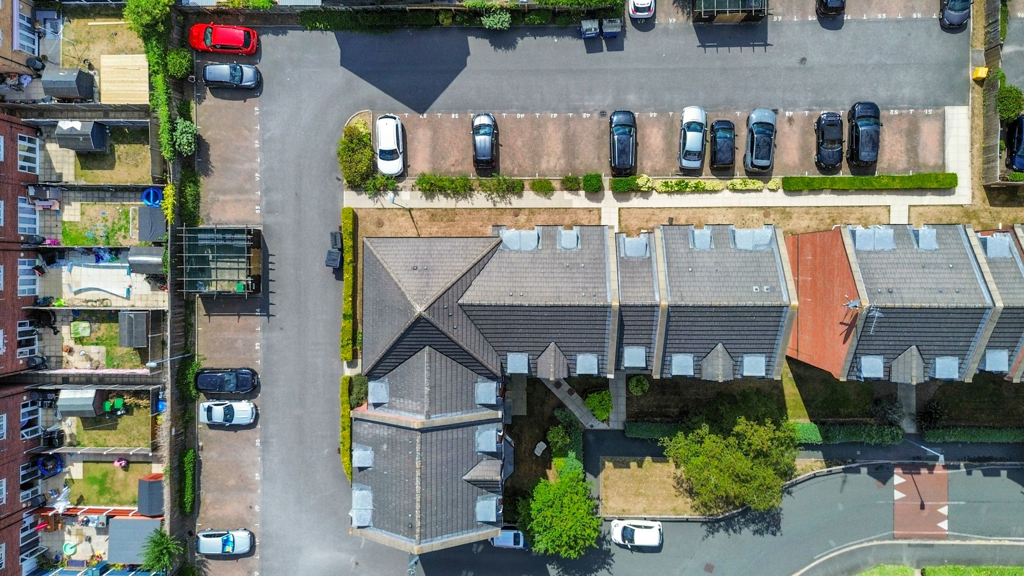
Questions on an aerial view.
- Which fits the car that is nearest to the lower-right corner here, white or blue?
white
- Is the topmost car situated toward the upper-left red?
Yes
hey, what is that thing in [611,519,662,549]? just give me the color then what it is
white car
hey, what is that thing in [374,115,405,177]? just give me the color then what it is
white car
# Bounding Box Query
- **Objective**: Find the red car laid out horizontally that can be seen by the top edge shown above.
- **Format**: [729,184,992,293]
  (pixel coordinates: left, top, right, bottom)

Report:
[192,21,257,56]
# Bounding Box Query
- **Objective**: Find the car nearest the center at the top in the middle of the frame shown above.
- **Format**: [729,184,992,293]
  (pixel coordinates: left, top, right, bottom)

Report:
[469,113,500,170]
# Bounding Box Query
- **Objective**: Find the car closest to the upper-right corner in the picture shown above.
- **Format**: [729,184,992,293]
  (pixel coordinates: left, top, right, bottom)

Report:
[936,0,974,29]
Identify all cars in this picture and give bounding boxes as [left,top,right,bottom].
[743,109,779,173]
[483,524,540,557]
[192,21,257,56]
[709,120,739,170]
[203,60,261,90]
[676,106,710,171]
[469,113,500,170]
[936,0,974,29]
[628,0,655,19]
[197,527,254,559]
[374,115,405,177]
[611,519,662,549]
[814,0,845,17]
[845,101,884,168]
[196,367,259,397]
[814,113,847,170]
[1000,113,1024,172]
[199,399,258,428]
[608,110,640,176]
